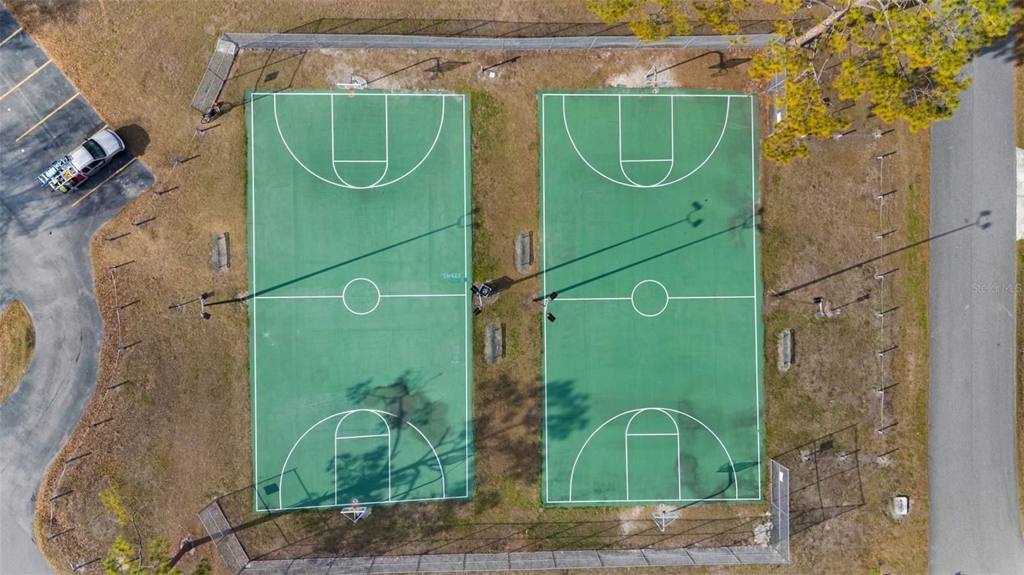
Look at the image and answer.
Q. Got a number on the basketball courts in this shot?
two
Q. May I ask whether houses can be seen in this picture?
No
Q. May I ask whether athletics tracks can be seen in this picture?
No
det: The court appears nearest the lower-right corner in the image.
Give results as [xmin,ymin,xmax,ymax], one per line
[538,89,765,508]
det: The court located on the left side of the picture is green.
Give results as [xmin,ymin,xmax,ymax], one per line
[246,90,473,513]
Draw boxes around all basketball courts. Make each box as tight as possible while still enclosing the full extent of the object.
[246,90,473,513]
[538,89,765,508]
